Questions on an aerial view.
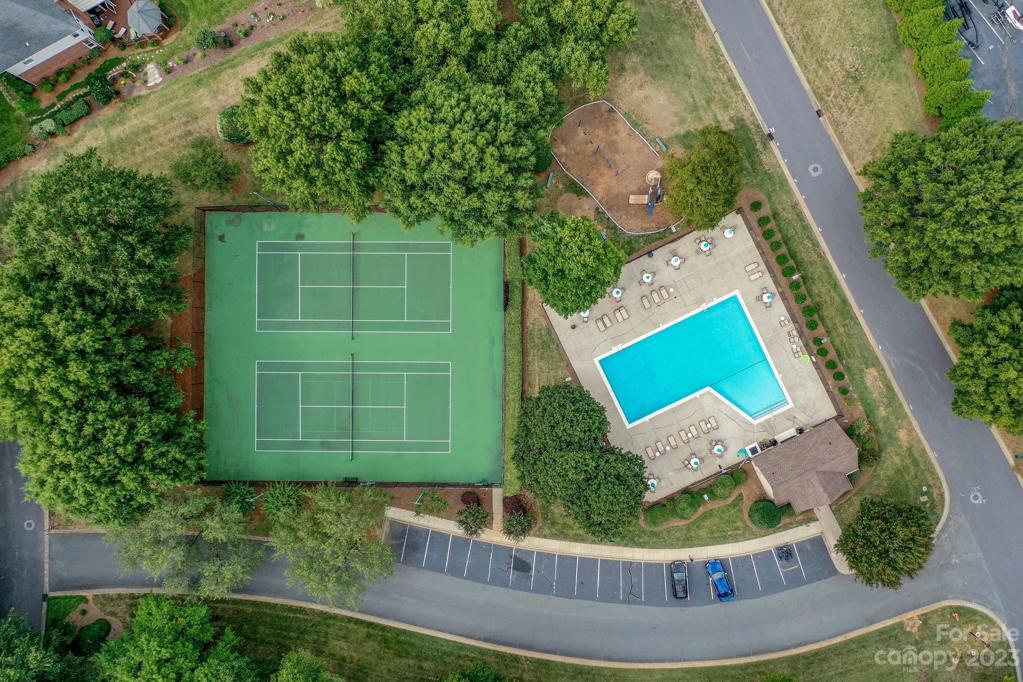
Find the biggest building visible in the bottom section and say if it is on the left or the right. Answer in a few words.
right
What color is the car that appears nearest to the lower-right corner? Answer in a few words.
blue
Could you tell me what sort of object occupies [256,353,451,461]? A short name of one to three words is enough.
tennis court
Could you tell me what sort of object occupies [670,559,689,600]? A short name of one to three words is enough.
car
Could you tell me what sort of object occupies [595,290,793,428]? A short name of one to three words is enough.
swimming pool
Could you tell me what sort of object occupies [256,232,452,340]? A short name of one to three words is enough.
tennis court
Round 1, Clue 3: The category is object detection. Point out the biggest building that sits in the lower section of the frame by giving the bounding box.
[746,418,859,514]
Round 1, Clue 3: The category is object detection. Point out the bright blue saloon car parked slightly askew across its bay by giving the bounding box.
[705,558,732,600]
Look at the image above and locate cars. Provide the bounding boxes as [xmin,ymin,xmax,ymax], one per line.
[705,558,732,600]
[670,559,689,600]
